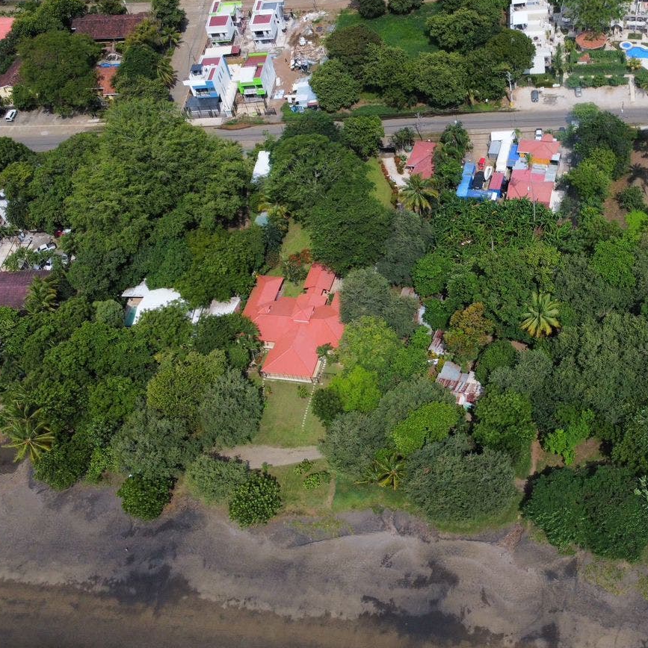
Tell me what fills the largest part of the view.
trees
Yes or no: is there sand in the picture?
Yes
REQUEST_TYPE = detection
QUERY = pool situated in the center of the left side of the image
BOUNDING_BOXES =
[125,302,139,322]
